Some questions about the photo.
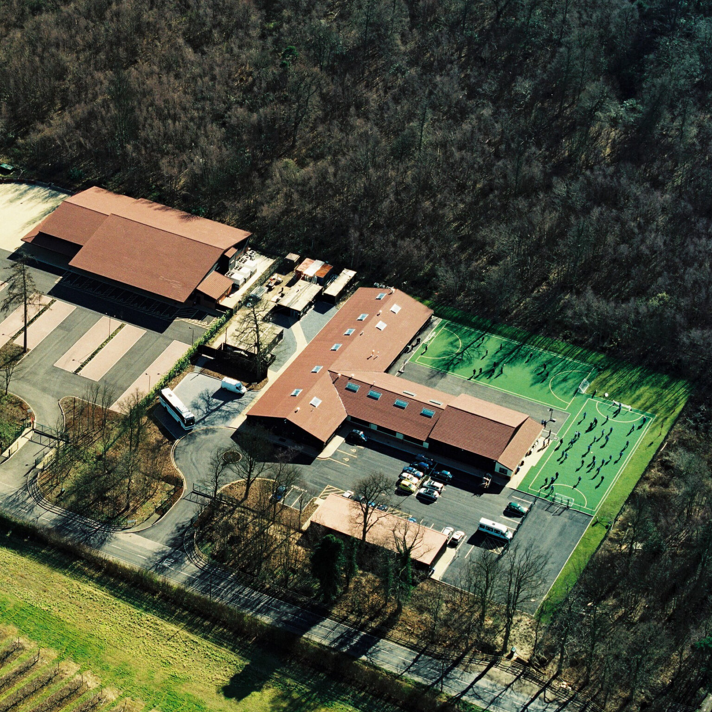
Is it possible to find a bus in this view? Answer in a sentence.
Yes, there's a bus down there.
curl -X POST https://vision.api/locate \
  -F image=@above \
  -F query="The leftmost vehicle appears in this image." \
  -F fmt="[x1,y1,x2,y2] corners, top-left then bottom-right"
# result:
[158,386,199,433]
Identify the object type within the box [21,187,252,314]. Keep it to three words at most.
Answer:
building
